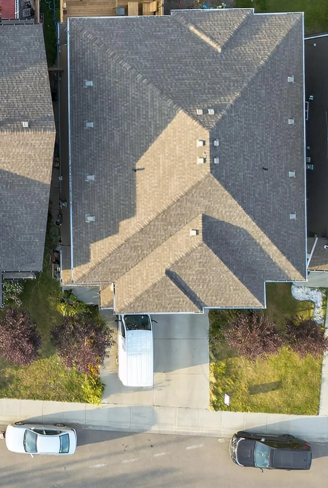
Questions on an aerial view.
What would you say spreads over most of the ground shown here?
buildings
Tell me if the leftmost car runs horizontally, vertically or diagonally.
horizontally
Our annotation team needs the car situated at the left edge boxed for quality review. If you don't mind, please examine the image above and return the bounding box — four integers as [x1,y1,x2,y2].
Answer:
[4,421,77,457]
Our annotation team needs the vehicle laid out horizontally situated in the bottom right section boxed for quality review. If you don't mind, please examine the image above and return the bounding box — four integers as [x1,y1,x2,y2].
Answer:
[227,431,311,471]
